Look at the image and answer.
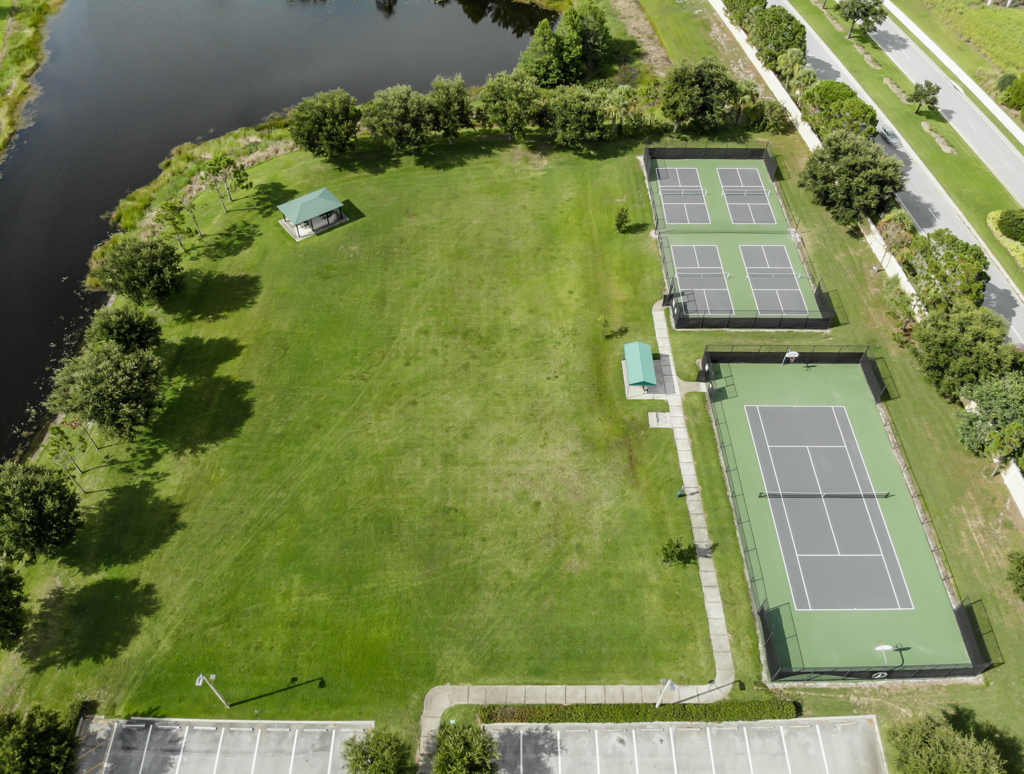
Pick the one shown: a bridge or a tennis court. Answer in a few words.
tennis court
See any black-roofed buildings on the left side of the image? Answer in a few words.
No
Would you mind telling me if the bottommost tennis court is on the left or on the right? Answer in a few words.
right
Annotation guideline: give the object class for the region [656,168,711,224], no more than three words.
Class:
sports court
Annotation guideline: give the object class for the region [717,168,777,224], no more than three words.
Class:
sports court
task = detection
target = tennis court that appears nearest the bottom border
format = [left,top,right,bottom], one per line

[703,363,985,684]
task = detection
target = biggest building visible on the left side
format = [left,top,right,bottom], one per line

[277,187,349,241]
